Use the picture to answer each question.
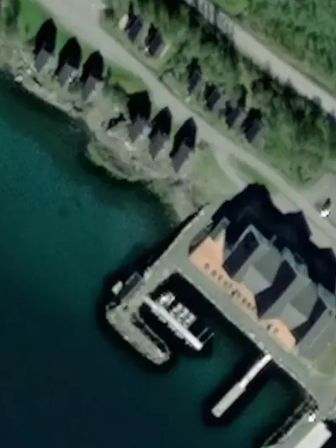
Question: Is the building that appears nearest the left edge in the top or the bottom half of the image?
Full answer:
The building that appears nearest the left edge is in the top half of the image.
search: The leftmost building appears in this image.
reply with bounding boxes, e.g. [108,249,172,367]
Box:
[31,51,56,77]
